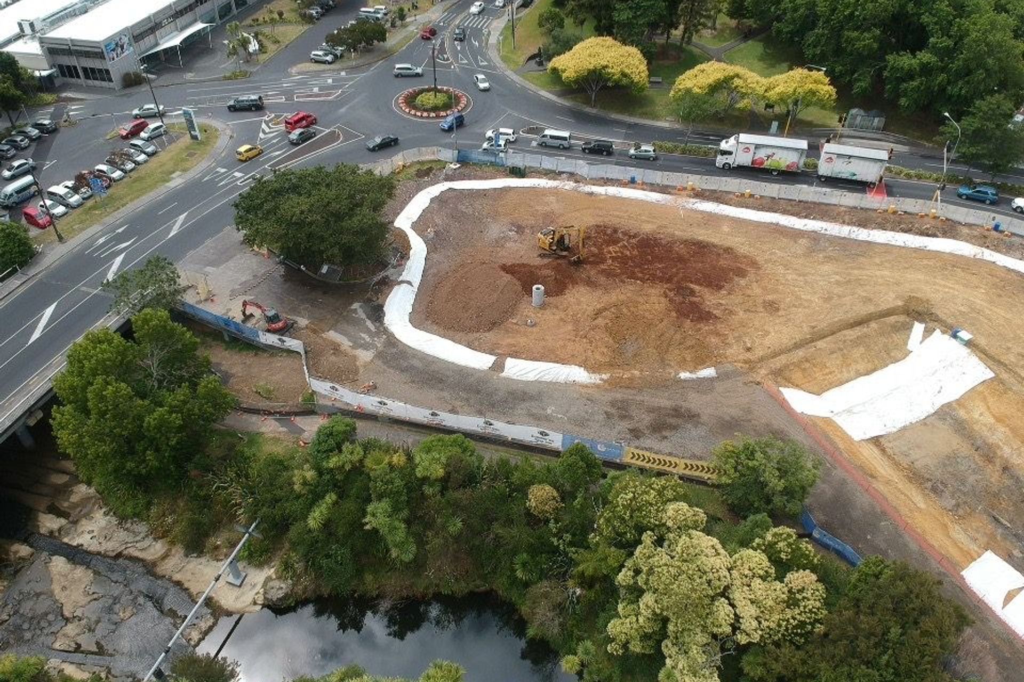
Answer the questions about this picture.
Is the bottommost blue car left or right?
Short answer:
right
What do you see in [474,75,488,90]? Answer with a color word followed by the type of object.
white car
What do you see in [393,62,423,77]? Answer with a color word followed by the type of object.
gray car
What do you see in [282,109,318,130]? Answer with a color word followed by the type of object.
red vehicle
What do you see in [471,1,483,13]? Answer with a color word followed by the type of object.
white vehicle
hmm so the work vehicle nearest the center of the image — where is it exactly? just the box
[540,220,588,259]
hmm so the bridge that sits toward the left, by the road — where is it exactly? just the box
[0,263,181,447]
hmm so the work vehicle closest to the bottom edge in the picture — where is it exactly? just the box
[246,290,291,331]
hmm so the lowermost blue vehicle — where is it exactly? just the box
[956,184,999,204]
